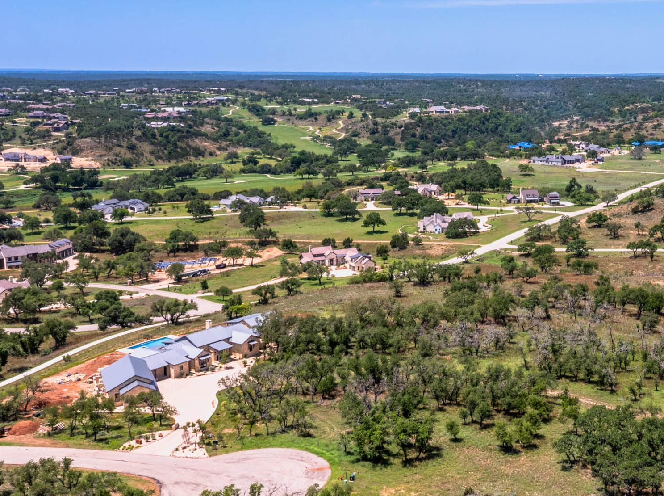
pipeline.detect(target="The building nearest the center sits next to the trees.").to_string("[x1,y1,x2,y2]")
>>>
[291,236,377,269]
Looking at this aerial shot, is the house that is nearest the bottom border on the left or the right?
left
